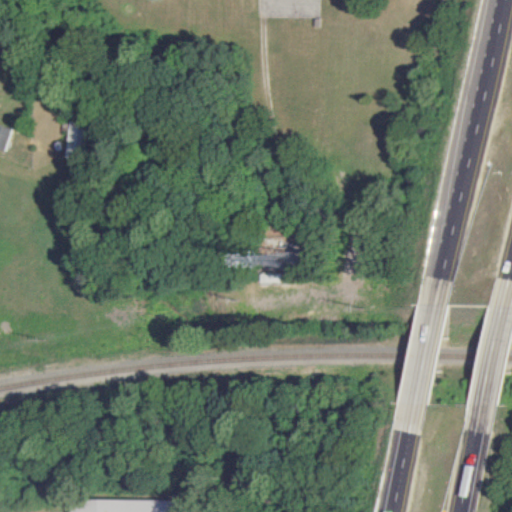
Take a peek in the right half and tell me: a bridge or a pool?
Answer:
bridge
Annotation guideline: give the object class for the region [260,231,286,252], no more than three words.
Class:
shed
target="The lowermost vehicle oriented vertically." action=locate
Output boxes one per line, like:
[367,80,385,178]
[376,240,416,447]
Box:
[459,452,474,498]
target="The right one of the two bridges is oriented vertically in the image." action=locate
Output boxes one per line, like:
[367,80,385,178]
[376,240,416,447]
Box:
[464,278,512,435]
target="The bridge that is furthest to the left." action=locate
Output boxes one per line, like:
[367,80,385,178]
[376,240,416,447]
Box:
[394,277,453,436]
